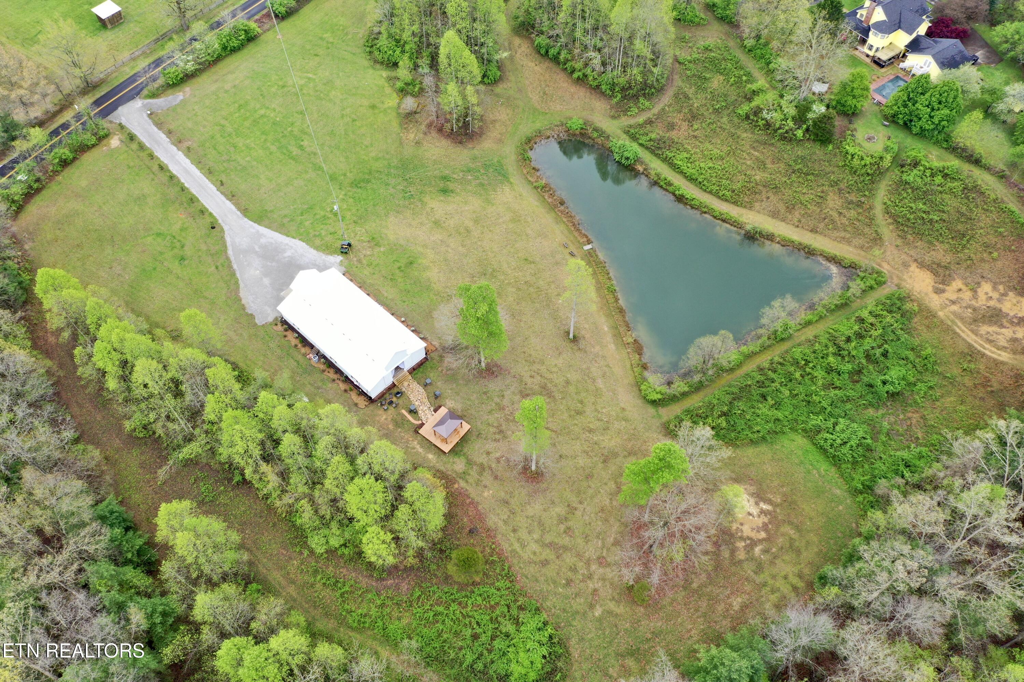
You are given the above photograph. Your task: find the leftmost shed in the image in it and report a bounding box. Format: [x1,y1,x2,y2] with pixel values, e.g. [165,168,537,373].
[90,1,124,28]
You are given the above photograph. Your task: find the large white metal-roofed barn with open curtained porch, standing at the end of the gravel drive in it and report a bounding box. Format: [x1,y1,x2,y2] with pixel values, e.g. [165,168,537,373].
[277,267,426,398]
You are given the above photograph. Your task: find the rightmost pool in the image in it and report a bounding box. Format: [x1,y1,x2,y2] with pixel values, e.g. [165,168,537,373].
[865,72,917,102]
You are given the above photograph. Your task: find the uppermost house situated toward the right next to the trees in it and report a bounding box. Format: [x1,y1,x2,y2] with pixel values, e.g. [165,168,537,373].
[834,0,934,56]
